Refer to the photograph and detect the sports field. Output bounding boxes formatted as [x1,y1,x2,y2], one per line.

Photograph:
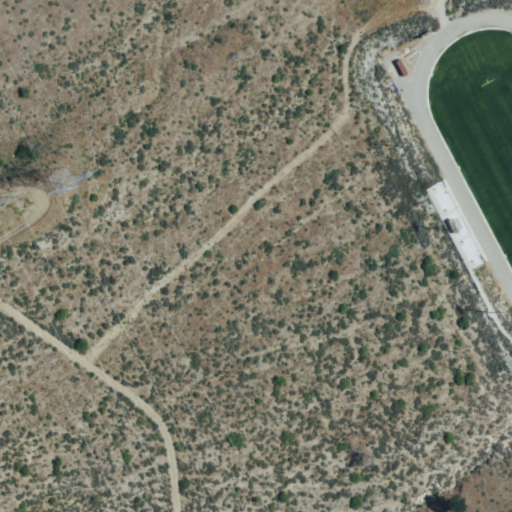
[430,28,512,264]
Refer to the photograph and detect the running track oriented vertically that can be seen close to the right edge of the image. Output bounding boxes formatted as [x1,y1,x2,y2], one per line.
[412,8,512,302]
